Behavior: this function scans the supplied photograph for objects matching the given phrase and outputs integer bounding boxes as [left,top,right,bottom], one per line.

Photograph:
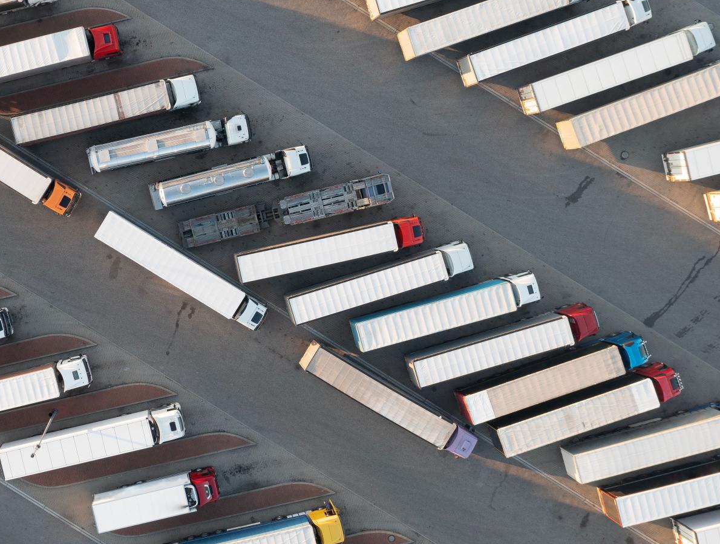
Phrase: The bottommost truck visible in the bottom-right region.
[674,507,720,544]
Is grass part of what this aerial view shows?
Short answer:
No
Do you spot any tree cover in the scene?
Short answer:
No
